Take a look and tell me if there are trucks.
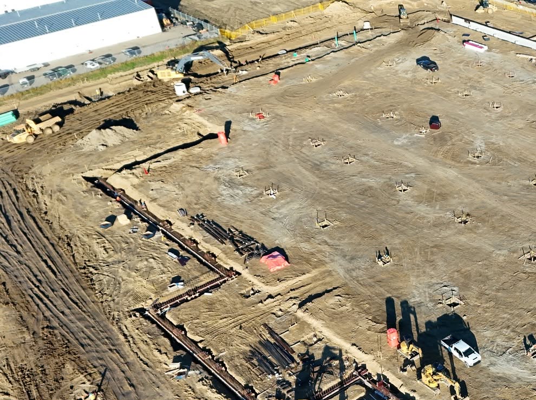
Yes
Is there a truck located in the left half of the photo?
Yes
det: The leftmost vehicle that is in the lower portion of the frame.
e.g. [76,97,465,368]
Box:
[400,340,420,366]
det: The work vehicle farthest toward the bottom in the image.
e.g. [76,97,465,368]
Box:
[420,362,461,400]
